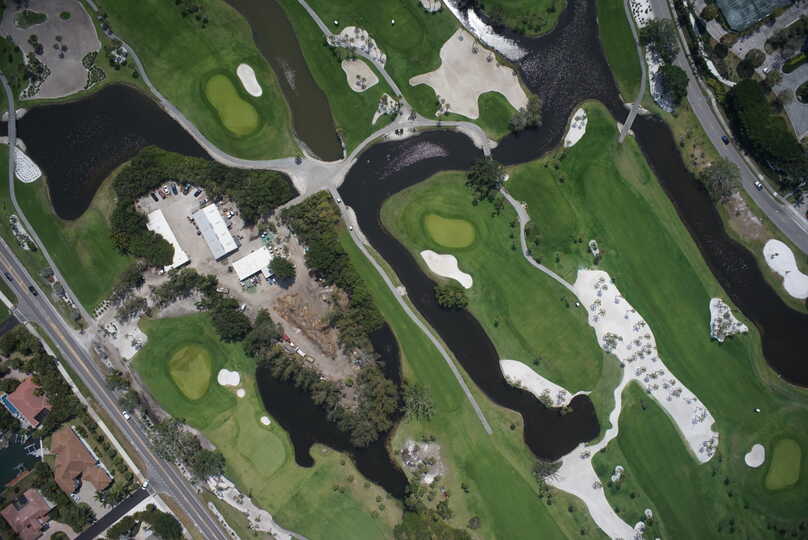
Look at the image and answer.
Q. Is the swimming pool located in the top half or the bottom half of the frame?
bottom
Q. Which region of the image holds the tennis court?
top right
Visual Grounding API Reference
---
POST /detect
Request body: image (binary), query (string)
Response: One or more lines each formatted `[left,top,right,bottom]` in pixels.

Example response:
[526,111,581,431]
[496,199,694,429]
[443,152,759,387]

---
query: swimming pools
[0,393,32,427]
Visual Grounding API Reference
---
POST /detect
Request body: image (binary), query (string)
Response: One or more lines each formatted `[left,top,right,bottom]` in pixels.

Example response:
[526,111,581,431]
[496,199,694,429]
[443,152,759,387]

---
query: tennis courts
[720,0,795,32]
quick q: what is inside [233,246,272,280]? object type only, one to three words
shed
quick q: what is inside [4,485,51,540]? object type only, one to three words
house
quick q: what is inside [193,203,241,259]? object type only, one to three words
shed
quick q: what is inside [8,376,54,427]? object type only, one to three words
house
